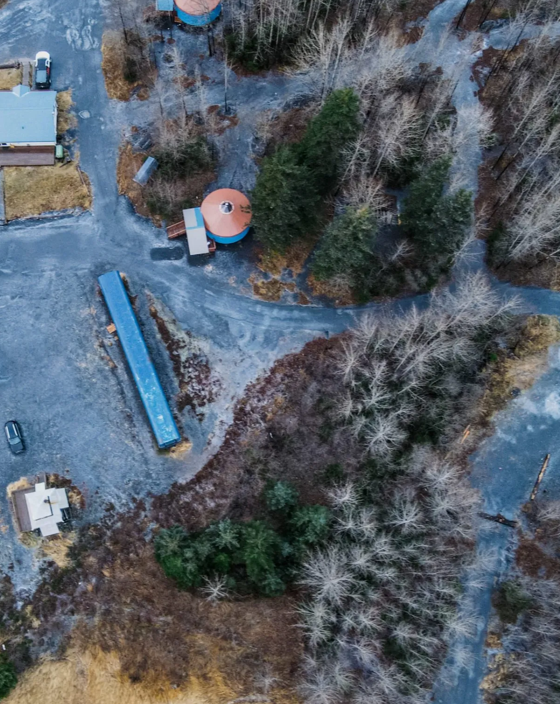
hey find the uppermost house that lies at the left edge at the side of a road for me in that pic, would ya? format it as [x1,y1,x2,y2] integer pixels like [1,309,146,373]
[0,83,61,152]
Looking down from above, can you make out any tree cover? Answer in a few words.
Yes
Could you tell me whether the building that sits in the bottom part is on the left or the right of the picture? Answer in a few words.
left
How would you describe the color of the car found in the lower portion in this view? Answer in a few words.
blue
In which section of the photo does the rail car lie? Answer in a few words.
left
